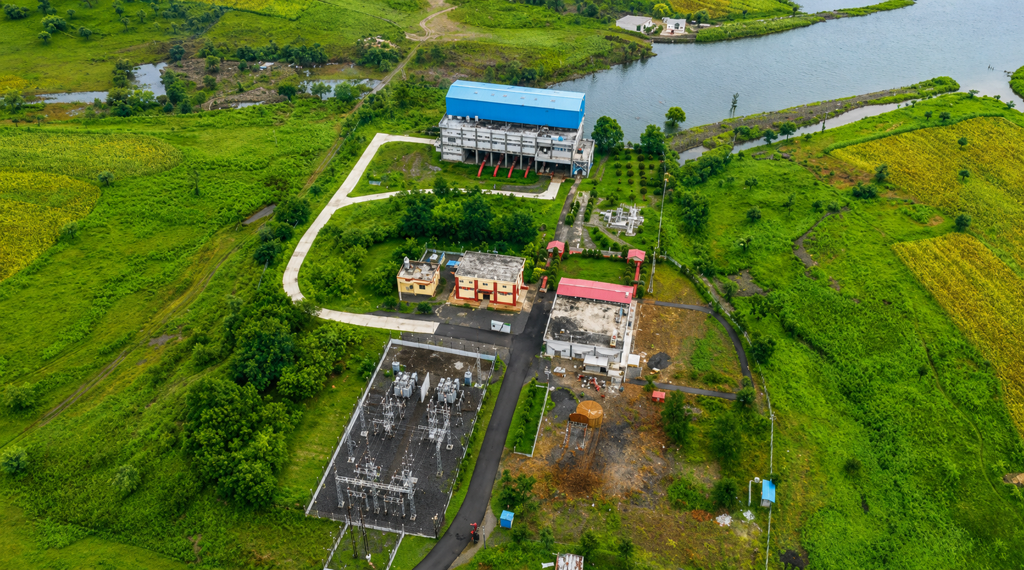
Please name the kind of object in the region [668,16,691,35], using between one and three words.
house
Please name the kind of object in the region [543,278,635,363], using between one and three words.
building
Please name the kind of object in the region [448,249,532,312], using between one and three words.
building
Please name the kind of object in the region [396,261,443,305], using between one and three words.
house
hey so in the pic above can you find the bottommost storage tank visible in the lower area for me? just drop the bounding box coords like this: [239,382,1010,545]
[580,402,609,437]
